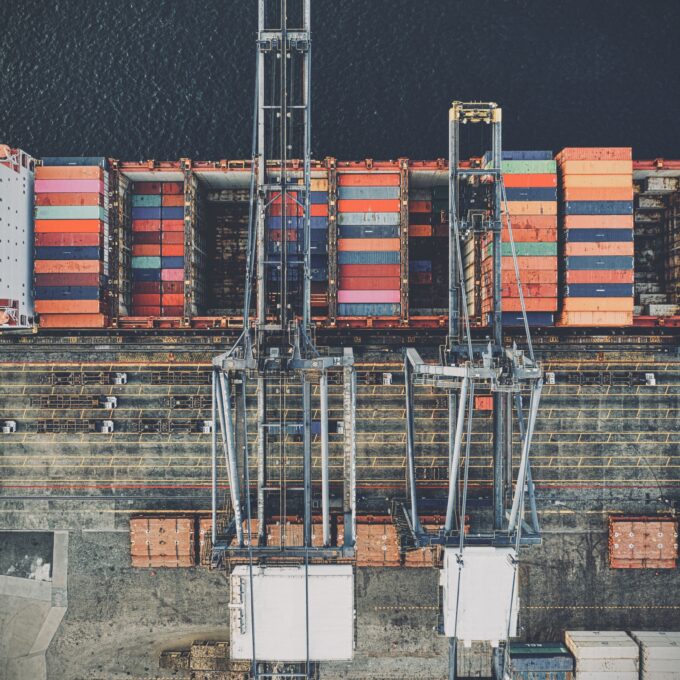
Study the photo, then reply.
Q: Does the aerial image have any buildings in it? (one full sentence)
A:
No, the picture doesn't show any building.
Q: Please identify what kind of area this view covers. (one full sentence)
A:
What you see here is a port.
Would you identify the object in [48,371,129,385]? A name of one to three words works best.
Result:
vehicle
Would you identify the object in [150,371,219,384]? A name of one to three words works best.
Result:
vehicle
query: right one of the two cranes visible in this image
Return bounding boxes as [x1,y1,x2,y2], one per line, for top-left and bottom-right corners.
[386,96,545,680]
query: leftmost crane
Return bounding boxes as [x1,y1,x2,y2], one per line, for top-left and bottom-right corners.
[193,0,367,680]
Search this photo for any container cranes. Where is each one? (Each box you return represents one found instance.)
[193,0,367,680]
[386,96,545,680]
